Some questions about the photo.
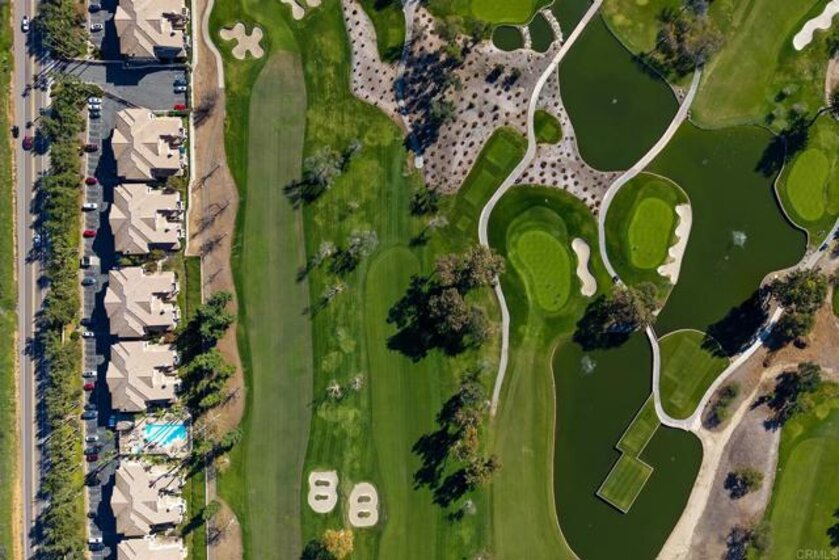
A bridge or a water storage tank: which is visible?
bridge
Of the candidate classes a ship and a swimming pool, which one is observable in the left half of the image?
swimming pool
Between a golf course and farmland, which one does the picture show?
golf course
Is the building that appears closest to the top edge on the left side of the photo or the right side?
left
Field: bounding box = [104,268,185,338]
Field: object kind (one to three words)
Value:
building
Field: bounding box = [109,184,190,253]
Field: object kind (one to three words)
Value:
building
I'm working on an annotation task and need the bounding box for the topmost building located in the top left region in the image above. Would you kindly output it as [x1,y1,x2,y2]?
[114,0,194,61]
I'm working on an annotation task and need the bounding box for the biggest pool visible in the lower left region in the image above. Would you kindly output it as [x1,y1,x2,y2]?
[118,414,193,457]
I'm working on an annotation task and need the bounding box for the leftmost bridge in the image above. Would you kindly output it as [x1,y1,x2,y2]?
[557,0,607,60]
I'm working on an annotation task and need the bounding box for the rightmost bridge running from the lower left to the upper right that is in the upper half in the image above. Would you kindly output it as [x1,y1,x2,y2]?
[635,101,693,172]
